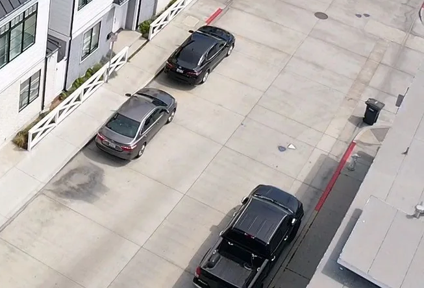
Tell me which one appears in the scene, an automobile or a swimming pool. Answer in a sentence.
The one in the frame is an automobile.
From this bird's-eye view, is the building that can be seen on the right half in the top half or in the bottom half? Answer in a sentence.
You can find the building that can be seen on the right half in the bottom half.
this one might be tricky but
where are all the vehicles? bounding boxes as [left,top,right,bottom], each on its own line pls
[160,22,236,87]
[184,179,309,288]
[91,82,182,162]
